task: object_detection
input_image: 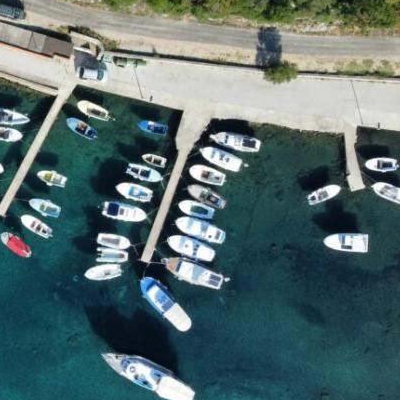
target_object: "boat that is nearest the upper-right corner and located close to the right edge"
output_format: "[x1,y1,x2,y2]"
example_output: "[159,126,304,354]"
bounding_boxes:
[362,156,400,173]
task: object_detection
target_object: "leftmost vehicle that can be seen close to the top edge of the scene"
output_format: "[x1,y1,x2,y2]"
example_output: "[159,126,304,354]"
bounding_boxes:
[0,2,27,22]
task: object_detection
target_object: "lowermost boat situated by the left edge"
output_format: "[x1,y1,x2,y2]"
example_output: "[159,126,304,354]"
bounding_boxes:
[0,231,35,261]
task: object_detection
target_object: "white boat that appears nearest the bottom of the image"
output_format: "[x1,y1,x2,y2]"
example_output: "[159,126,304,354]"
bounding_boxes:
[103,354,204,400]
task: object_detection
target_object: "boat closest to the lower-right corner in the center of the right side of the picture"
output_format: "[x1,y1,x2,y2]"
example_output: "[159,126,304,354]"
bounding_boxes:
[323,232,370,252]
